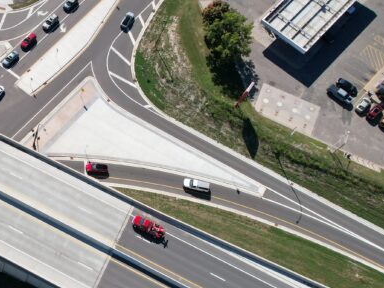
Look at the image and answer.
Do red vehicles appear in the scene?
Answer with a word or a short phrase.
Yes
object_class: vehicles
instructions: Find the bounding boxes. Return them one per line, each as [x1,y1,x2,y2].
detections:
[366,105,384,121]
[42,15,60,31]
[336,79,358,95]
[354,99,371,114]
[342,3,359,18]
[183,180,212,193]
[131,214,173,240]
[21,32,38,49]
[120,12,135,30]
[62,0,79,11]
[378,119,384,129]
[327,85,351,104]
[2,51,19,67]
[85,164,108,175]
